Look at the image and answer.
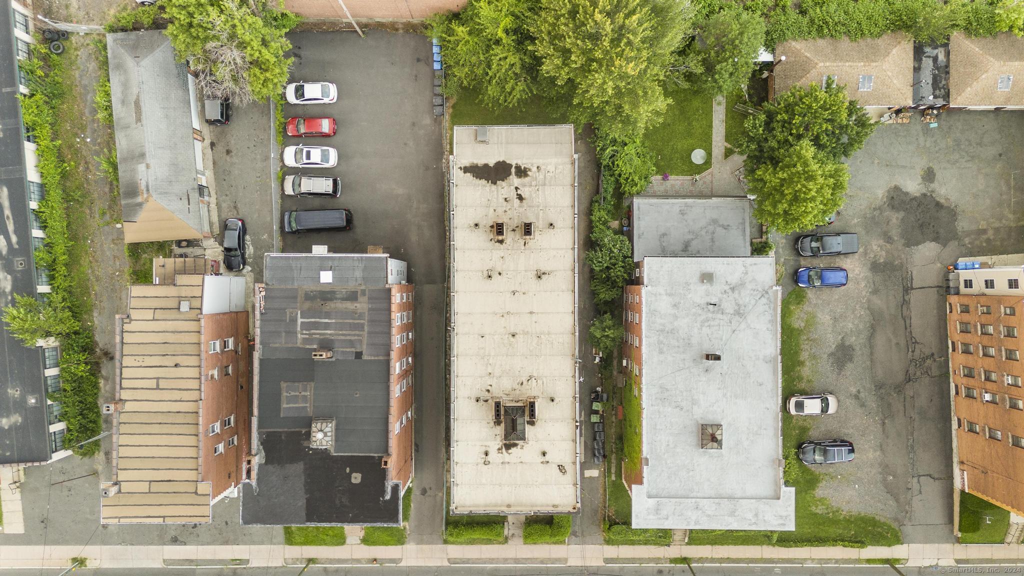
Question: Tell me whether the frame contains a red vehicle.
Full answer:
Yes, the image includes a red vehicle.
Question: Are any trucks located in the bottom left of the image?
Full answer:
No, no truck is visible in the bottom left of the image.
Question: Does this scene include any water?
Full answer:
No, water can't be seen anywhere here.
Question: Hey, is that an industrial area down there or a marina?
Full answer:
This image shows an industrial area.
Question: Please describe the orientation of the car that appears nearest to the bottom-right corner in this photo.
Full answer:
Seen from above, the car that appears nearest to the bottom-right corner lies from left to right.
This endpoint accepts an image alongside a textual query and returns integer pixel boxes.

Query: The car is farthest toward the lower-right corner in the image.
[798,438,857,467]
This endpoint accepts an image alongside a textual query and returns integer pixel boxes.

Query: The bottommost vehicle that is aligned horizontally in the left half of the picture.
[283,207,352,234]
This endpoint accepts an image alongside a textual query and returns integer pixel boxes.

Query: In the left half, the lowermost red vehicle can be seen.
[286,114,336,139]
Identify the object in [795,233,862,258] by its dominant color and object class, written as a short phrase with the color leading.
gray truck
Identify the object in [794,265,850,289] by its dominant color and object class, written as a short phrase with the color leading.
blue car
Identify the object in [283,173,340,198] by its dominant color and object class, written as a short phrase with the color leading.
white car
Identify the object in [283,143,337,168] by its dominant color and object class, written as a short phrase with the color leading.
white car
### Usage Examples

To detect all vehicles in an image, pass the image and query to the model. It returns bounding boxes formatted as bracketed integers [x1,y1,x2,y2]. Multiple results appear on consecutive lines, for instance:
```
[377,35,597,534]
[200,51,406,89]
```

[286,80,337,106]
[283,143,337,168]
[221,218,249,271]
[798,438,857,467]
[795,233,862,258]
[286,114,336,139]
[787,392,839,417]
[283,173,340,198]
[794,265,850,289]
[204,82,230,124]
[283,207,352,234]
